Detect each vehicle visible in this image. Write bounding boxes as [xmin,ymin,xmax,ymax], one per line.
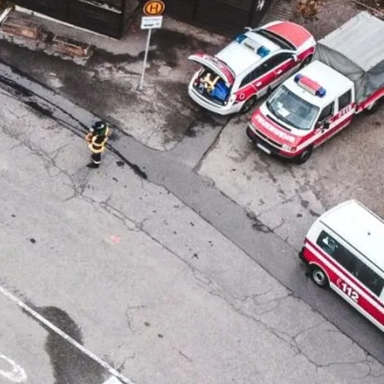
[182,14,318,124]
[242,3,384,166]
[298,196,384,332]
